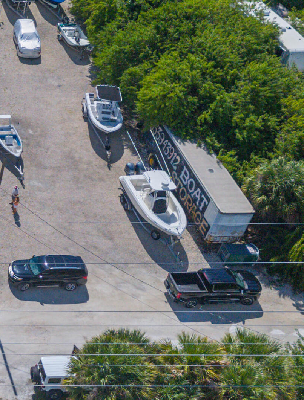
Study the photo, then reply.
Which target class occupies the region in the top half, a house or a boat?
boat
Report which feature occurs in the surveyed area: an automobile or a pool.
automobile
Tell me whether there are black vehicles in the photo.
Yes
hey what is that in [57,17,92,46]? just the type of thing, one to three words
boat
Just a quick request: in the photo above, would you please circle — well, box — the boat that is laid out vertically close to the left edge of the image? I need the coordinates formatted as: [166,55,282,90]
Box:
[0,106,25,161]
